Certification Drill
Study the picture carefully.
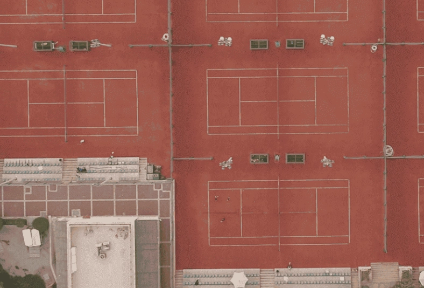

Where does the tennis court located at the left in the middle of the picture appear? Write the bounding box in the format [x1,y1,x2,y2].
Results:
[0,45,175,184]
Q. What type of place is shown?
sports ground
